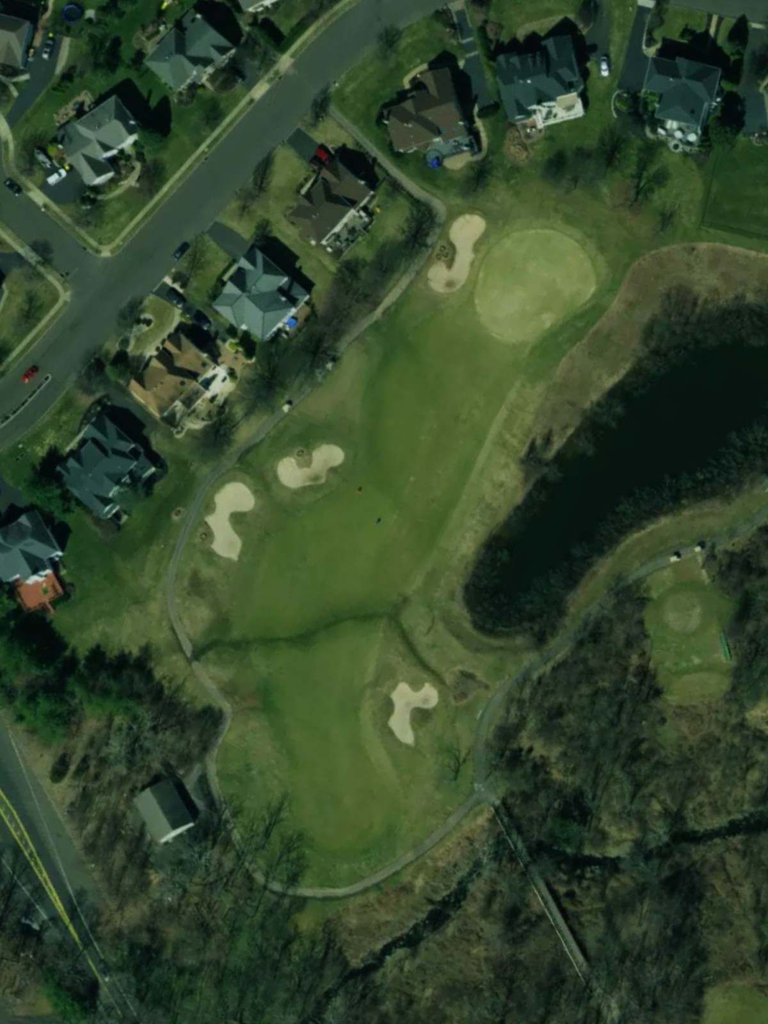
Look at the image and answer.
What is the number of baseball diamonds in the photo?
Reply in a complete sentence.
The count of baseball diamonds is 0.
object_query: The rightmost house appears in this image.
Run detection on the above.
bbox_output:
[645,51,720,145]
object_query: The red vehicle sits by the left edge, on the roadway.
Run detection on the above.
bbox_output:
[22,366,38,382]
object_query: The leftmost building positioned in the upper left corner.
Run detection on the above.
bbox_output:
[0,16,32,74]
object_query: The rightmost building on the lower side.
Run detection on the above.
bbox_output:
[135,778,194,841]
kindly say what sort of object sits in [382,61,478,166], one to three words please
house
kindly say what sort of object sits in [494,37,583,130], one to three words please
house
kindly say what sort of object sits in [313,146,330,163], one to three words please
car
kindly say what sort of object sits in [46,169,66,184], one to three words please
car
